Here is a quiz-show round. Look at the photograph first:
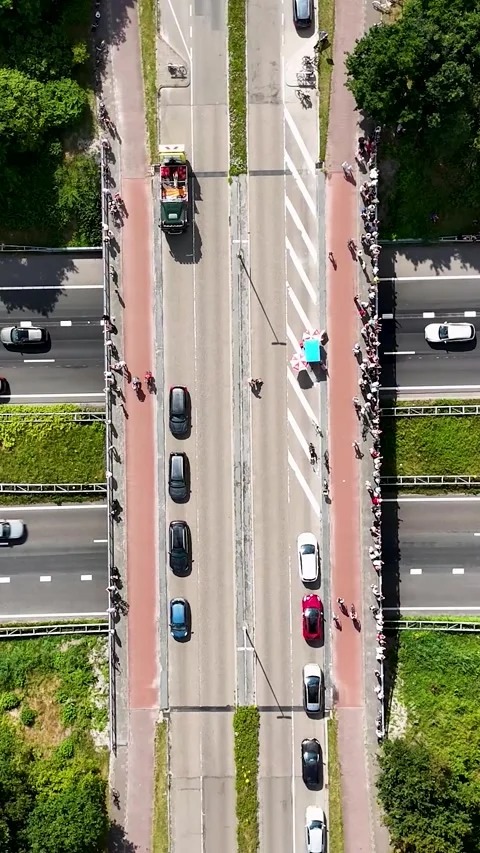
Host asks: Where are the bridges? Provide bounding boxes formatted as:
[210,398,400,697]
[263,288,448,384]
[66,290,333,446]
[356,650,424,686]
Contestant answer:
[104,151,382,711]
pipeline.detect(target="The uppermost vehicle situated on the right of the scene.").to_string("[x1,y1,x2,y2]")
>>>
[292,0,313,29]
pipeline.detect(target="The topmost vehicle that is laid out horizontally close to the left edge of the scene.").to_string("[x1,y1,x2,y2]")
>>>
[2,326,48,348]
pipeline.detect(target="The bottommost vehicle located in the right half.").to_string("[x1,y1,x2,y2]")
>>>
[304,803,328,853]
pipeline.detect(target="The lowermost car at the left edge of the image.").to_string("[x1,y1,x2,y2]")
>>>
[0,518,25,541]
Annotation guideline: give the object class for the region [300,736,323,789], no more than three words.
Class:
car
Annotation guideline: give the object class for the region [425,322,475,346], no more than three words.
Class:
car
